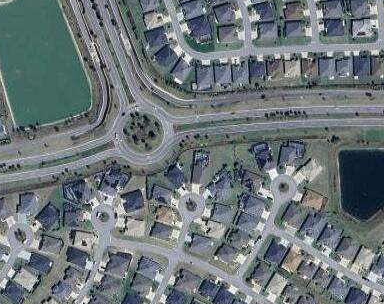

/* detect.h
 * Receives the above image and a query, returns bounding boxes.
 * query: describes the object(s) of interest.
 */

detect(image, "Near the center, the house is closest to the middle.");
[190,151,208,178]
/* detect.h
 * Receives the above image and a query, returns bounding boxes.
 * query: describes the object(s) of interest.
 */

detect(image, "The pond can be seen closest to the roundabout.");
[0,0,91,129]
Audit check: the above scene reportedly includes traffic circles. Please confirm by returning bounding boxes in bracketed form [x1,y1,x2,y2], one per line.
[114,103,173,161]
